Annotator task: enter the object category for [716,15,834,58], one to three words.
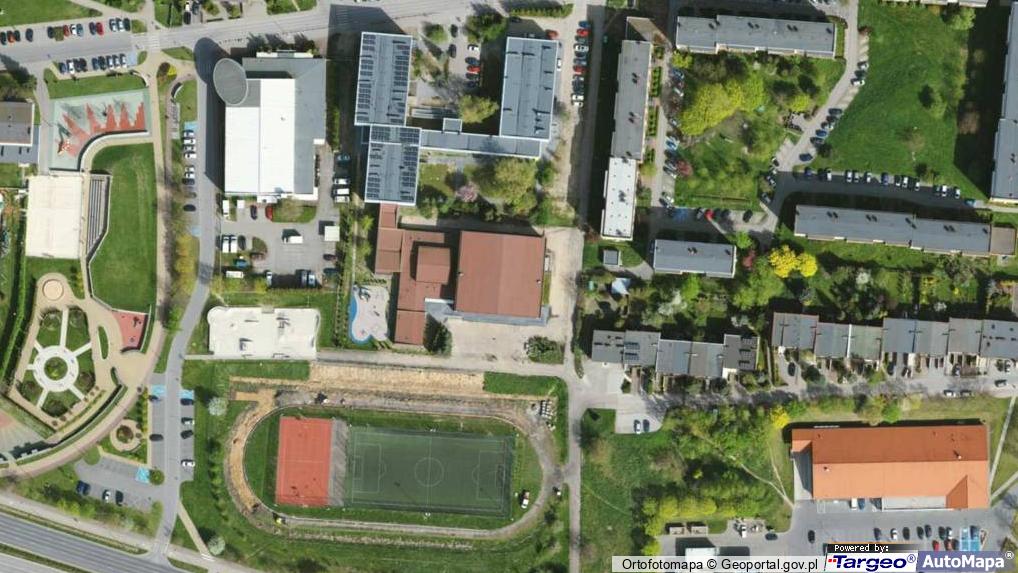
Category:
building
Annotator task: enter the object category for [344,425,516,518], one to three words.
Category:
soccer field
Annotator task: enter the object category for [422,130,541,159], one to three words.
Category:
building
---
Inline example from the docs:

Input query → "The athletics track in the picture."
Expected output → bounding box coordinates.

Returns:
[227,391,569,547]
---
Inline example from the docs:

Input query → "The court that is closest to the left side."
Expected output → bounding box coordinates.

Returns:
[276,417,331,505]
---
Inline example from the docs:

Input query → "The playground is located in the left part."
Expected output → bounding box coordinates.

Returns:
[348,284,390,344]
